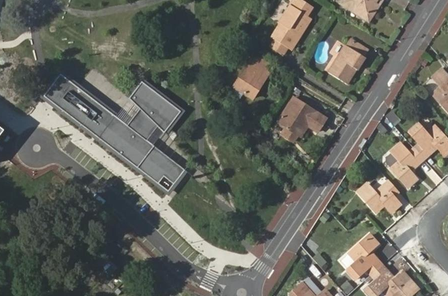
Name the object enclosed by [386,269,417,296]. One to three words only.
house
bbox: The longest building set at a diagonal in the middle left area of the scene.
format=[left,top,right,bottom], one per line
[44,73,184,192]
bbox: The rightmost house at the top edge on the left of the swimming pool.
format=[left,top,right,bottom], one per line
[271,0,314,56]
